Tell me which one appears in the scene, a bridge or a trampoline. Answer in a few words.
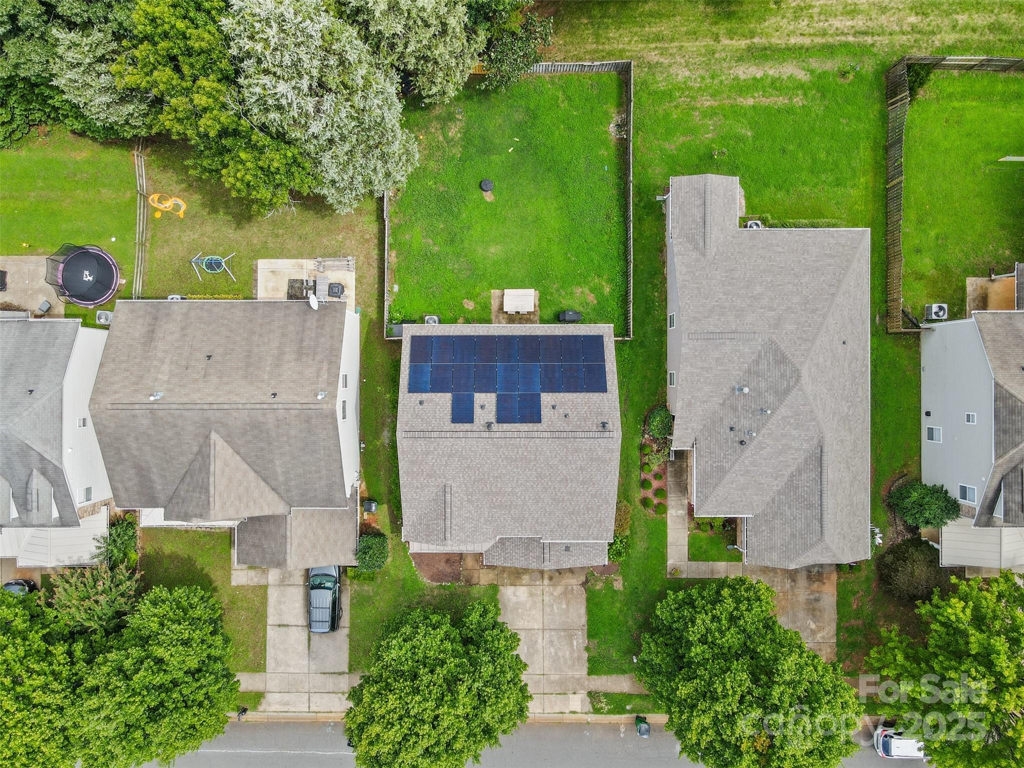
trampoline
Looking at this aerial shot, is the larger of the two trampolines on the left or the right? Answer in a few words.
left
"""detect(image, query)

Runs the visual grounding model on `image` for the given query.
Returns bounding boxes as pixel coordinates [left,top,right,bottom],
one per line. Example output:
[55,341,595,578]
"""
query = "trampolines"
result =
[45,241,134,313]
[204,257,225,274]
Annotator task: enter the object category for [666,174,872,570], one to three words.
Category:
house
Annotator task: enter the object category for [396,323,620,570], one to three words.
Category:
house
